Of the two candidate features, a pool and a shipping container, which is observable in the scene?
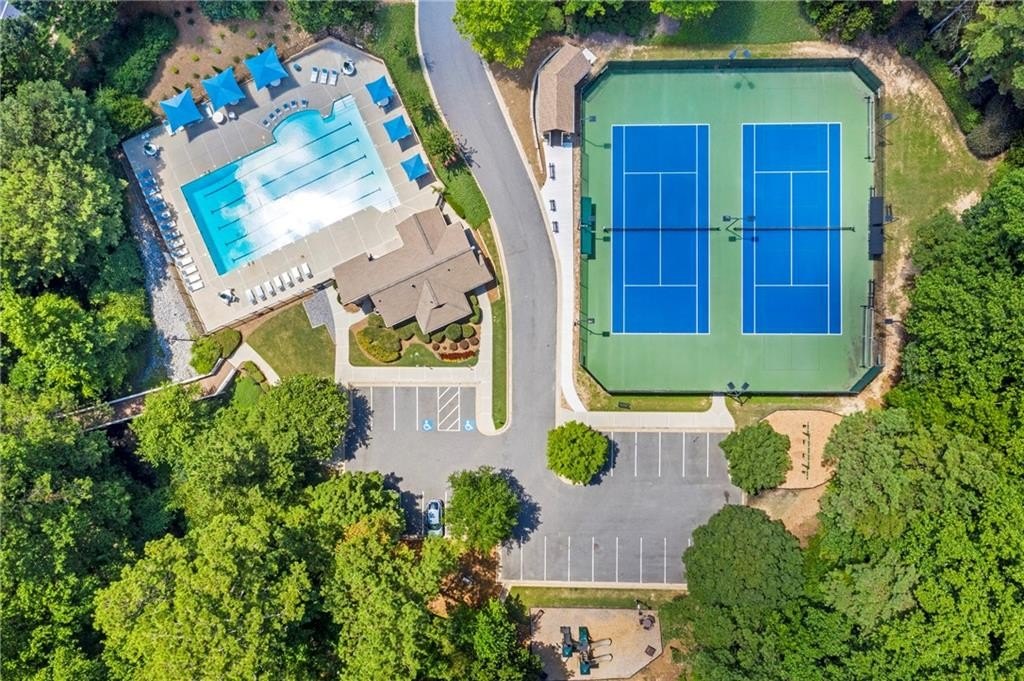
pool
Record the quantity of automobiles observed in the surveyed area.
1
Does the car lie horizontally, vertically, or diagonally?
vertically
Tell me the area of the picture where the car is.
bottom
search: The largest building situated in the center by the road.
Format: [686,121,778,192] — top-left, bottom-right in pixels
[333,207,493,334]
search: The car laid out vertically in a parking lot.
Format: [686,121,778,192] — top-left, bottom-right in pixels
[425,498,445,538]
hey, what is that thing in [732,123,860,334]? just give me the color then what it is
blue tennis court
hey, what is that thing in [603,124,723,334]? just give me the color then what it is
blue tennis court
